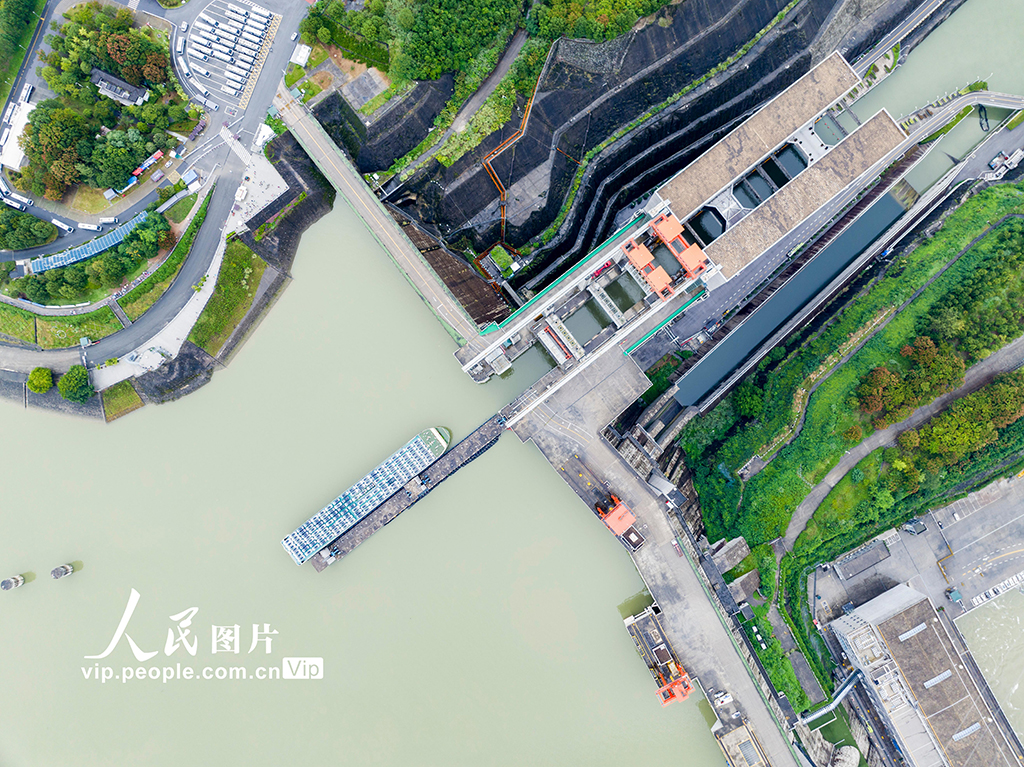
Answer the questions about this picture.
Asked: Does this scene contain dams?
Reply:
Yes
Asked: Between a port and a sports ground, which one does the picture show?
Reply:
port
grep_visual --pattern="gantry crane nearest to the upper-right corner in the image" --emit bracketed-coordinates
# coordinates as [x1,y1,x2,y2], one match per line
[644,211,708,283]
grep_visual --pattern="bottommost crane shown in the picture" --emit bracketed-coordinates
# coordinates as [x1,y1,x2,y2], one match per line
[650,664,697,708]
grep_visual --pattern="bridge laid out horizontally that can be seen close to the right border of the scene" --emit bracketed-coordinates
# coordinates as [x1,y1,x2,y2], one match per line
[971,87,1024,112]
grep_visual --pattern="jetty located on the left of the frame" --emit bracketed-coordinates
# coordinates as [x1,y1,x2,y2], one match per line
[310,415,508,574]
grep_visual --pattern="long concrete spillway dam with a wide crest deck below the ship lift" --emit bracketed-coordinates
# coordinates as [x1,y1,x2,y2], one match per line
[505,263,822,767]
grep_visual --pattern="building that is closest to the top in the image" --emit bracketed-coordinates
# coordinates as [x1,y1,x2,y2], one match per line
[291,44,313,69]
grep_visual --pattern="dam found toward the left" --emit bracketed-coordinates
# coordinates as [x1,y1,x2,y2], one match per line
[263,94,515,347]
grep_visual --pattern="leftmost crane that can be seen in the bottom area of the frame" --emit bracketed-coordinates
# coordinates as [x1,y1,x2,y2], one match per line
[596,493,638,539]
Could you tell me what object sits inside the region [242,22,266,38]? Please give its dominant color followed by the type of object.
white vehicle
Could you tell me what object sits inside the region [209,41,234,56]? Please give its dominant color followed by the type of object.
white vehicle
